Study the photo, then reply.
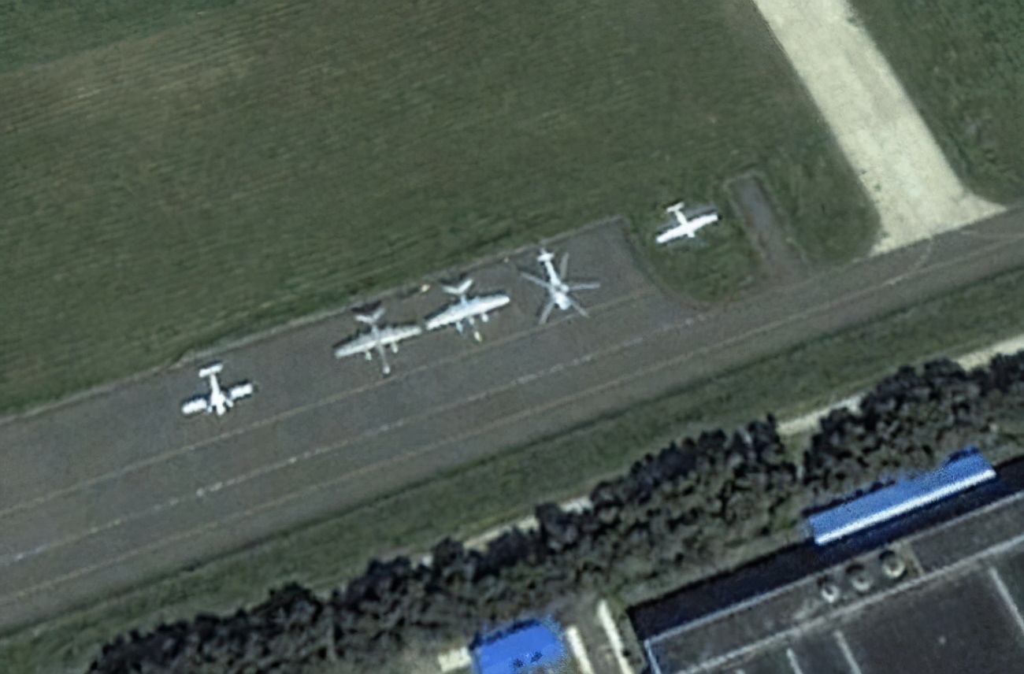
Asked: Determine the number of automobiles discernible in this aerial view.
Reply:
0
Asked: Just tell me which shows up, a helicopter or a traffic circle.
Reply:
helicopter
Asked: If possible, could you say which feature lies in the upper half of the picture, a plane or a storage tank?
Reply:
plane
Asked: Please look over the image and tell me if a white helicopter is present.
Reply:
Yes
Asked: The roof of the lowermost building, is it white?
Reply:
No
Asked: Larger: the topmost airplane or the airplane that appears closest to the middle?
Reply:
the airplane that appears closest to the middle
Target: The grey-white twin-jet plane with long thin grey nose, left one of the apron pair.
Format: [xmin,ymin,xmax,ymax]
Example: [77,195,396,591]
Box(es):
[333,305,419,374]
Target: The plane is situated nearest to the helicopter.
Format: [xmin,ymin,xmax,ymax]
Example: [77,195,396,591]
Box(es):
[424,275,509,342]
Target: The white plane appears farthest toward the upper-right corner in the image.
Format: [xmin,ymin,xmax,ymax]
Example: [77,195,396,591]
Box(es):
[659,199,720,240]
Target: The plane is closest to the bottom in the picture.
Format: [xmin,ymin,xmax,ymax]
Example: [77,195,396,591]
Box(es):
[182,366,253,417]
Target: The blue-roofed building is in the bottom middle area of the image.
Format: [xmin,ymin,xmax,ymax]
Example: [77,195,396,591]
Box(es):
[476,621,577,674]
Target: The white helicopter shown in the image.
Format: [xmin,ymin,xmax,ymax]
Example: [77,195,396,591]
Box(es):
[521,248,600,324]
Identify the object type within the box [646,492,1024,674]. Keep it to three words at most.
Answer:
building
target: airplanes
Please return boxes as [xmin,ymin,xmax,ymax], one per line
[182,366,253,417]
[333,305,419,374]
[659,199,720,240]
[424,275,509,342]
